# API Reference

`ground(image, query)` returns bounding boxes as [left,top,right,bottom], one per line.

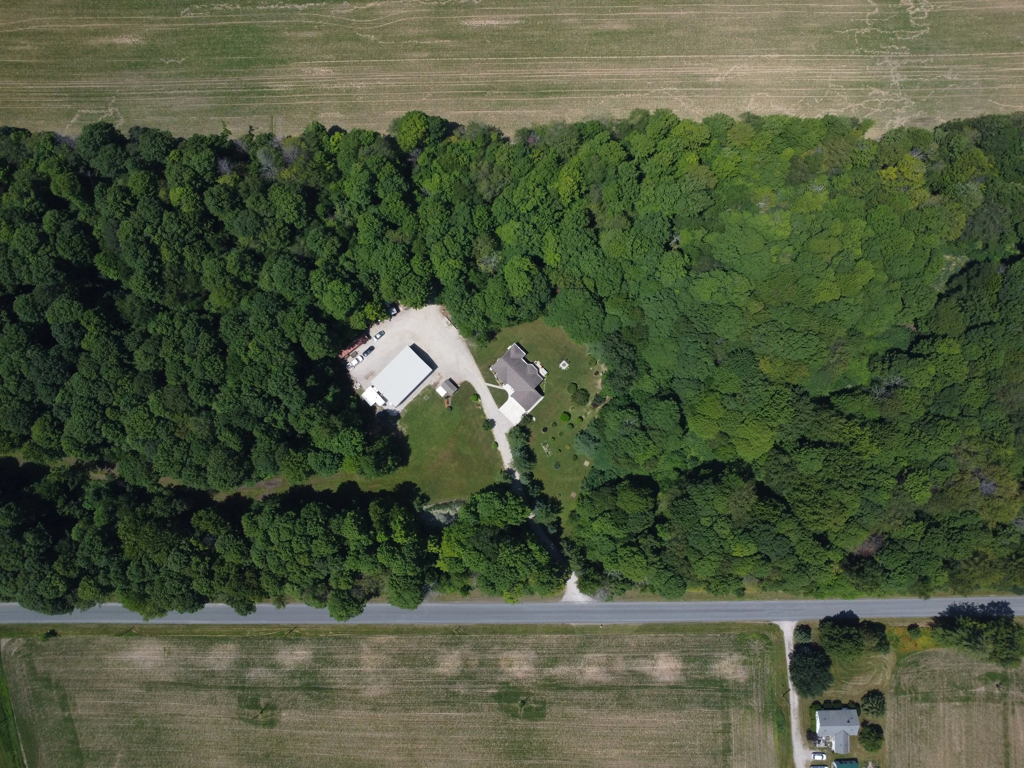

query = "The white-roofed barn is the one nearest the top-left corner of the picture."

[371,346,433,407]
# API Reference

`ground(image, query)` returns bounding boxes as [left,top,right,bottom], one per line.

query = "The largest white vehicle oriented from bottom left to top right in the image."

[346,355,364,370]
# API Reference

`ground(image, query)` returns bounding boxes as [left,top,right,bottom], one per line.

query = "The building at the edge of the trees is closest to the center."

[490,343,544,412]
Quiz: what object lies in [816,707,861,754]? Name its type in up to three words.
house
